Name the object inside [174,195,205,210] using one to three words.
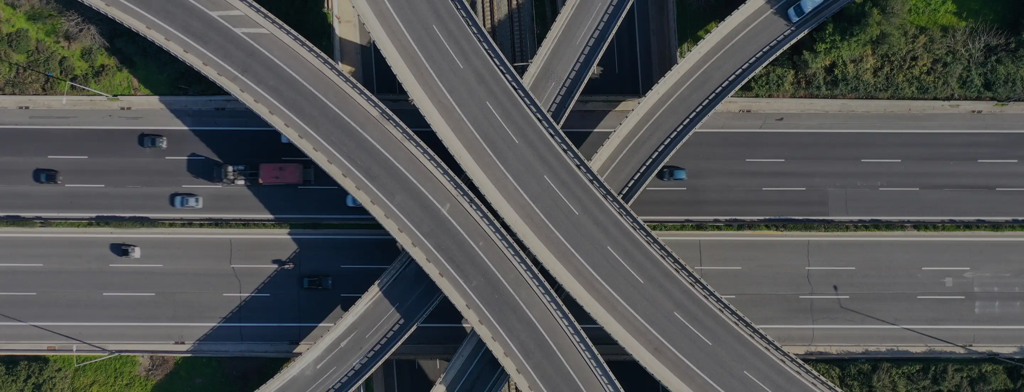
car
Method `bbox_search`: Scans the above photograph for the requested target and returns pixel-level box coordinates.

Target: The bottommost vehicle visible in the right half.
[660,167,688,182]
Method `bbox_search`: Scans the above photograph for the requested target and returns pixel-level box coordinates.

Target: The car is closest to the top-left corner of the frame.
[39,170,66,184]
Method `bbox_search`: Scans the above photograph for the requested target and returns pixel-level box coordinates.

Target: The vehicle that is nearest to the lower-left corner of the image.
[120,245,142,259]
